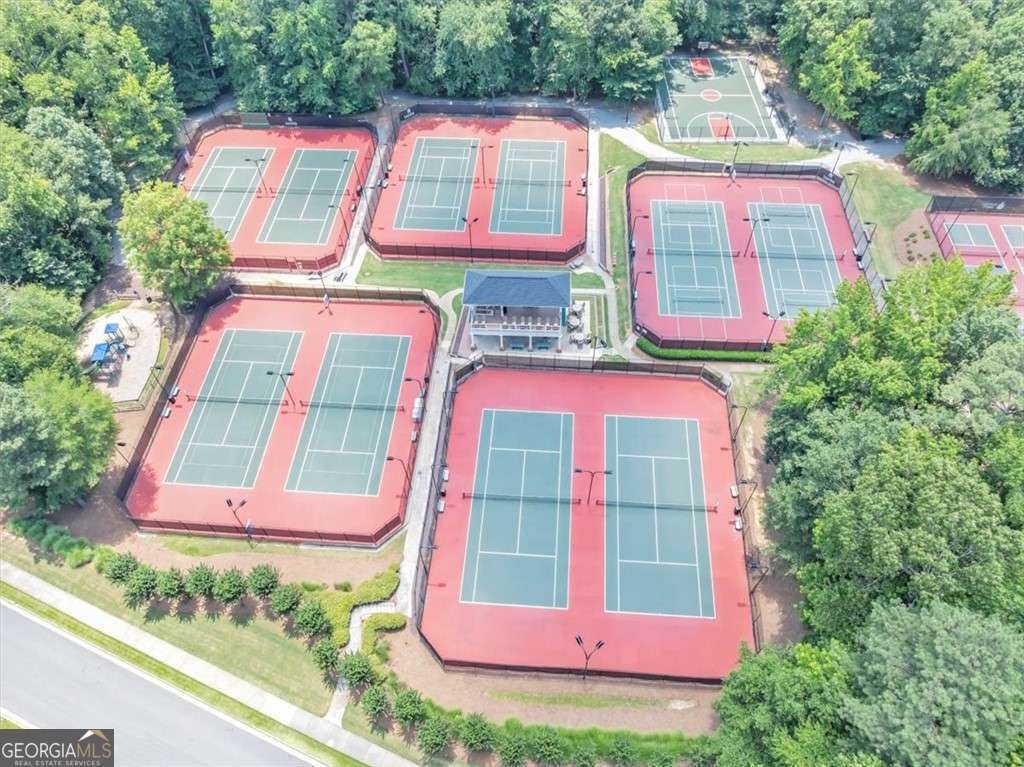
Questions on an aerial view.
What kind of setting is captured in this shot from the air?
sports ground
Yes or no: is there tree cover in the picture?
Yes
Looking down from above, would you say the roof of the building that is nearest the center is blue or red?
blue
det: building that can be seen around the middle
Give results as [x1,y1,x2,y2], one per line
[462,269,571,353]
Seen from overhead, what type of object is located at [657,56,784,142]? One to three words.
basketball court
